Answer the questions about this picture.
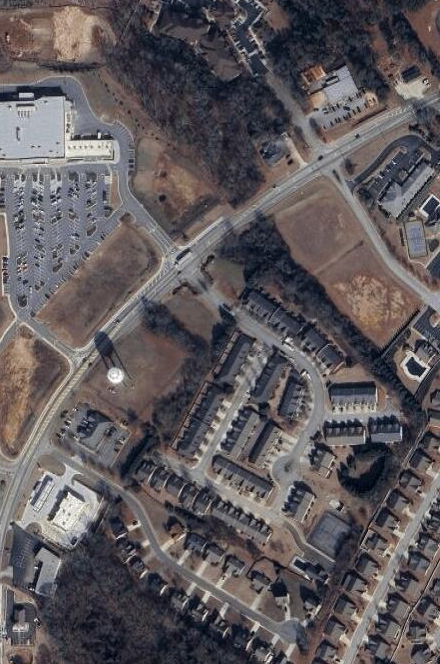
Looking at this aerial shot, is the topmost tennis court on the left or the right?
right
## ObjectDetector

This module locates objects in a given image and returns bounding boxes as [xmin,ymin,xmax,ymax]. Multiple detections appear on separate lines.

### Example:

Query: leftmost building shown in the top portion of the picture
[0,96,65,167]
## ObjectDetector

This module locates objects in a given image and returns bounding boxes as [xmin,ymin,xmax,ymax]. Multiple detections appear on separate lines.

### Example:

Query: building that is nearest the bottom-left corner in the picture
[11,611,30,642]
